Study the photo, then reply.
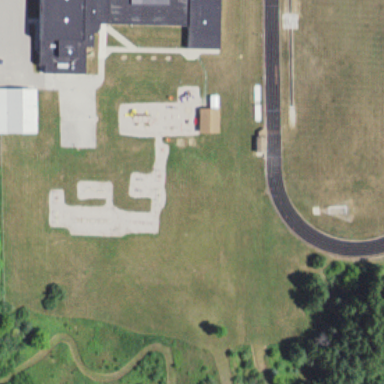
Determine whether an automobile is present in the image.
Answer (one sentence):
No, no automobile is visible in the view.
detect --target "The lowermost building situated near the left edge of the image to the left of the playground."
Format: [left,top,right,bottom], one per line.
[0,88,38,134]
